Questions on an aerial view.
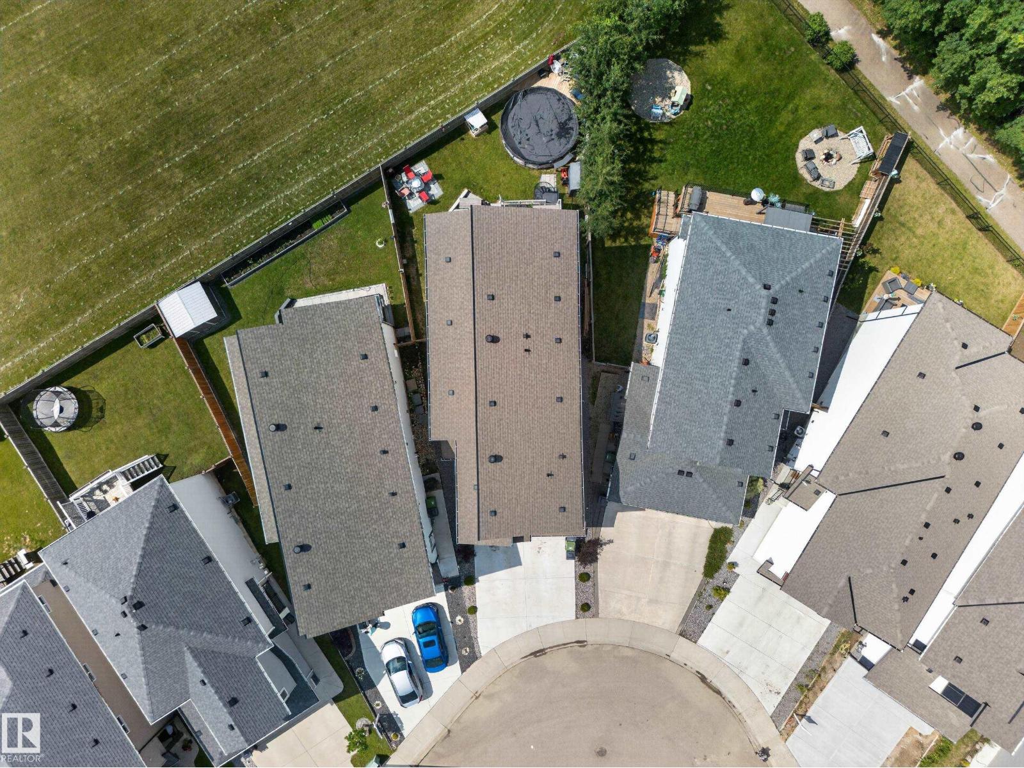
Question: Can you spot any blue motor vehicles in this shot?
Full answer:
Yes, you can see a blue motor vehicle in this photo.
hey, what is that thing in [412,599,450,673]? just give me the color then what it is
blue car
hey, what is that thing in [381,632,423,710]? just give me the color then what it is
white car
